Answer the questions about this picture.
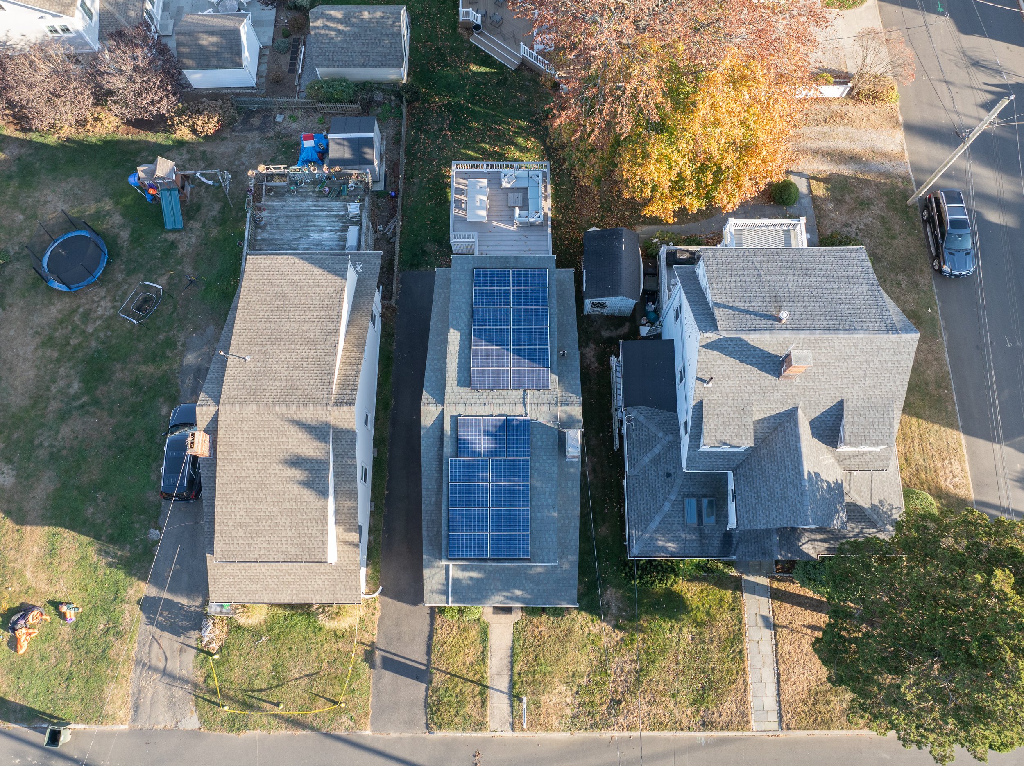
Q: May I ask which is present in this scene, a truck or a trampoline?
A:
trampoline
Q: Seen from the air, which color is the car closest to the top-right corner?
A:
blue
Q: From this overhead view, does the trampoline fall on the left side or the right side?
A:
left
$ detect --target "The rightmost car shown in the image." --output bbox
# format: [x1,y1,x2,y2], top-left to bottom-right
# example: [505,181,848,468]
[920,190,978,282]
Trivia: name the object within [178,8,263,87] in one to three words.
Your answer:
building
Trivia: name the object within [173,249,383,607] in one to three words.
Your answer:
house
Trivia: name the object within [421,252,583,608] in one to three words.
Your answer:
house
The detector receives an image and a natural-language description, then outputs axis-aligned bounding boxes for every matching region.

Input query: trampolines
[14,207,120,299]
